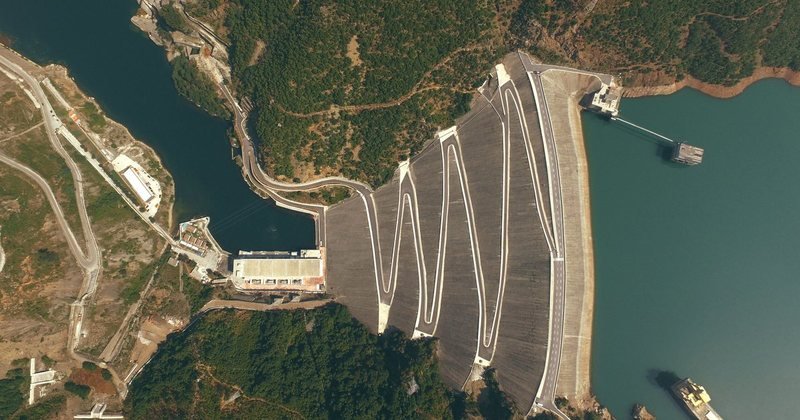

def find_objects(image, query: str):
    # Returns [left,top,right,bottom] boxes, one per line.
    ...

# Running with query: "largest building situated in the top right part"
[579,84,623,122]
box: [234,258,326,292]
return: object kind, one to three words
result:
building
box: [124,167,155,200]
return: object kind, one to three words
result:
building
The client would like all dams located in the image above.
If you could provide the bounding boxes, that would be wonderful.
[325,52,594,416]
